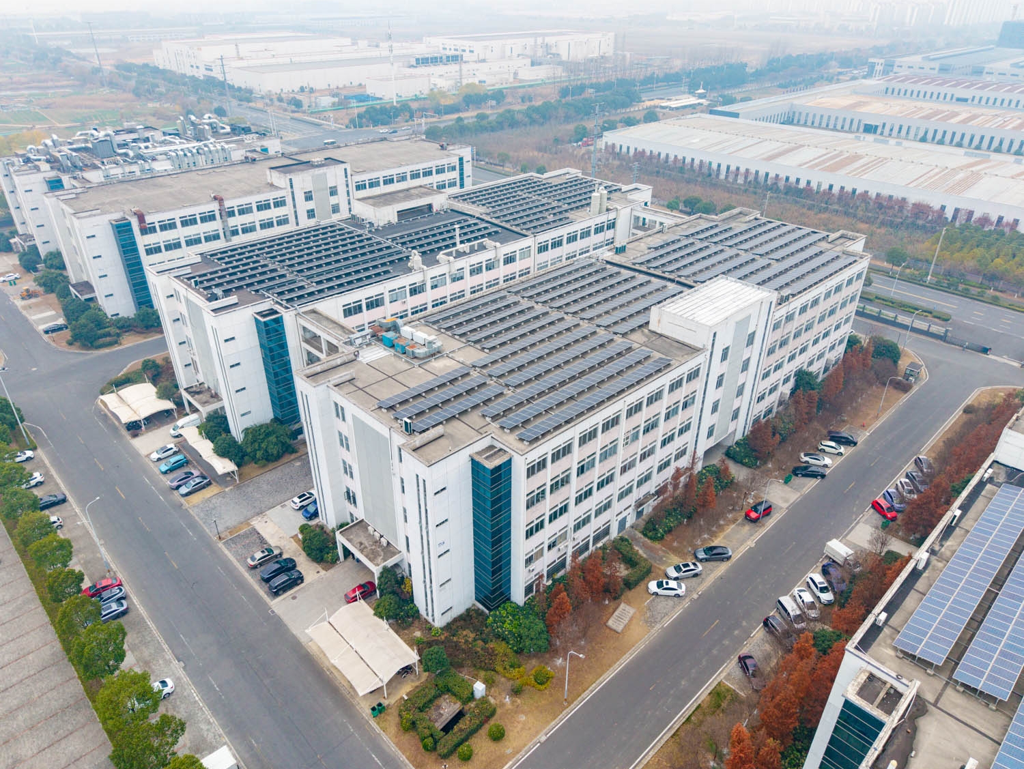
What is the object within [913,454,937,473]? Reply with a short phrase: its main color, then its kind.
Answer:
gray car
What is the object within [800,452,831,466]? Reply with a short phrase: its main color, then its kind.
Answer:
white car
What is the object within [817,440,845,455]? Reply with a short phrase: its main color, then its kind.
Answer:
white car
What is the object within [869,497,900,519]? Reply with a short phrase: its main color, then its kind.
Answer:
red car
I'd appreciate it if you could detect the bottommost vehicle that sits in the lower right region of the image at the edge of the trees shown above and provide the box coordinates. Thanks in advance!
[733,650,769,689]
